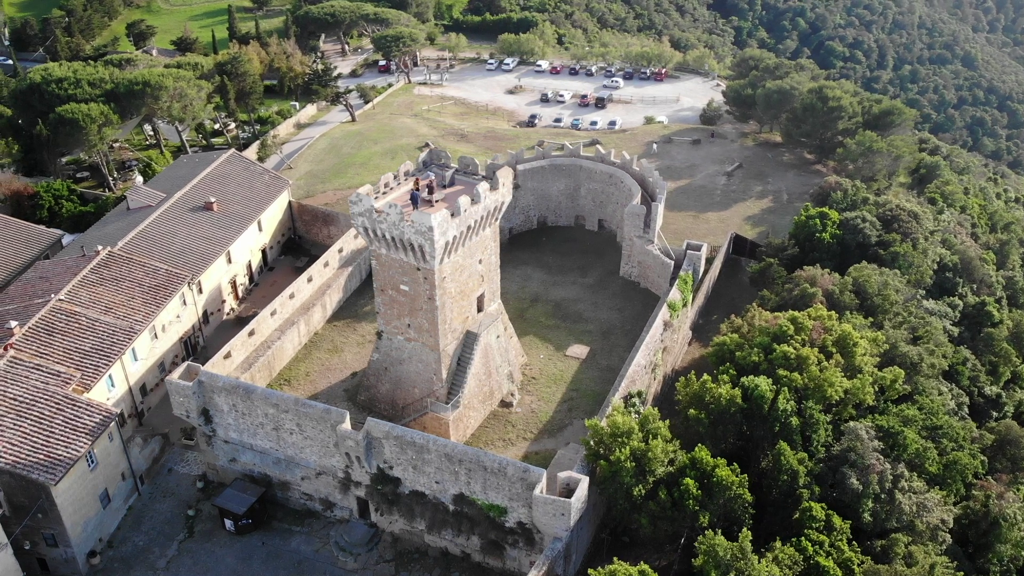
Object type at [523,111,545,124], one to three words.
vehicle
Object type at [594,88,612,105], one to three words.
vehicle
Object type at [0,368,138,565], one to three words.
house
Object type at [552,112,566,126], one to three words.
car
